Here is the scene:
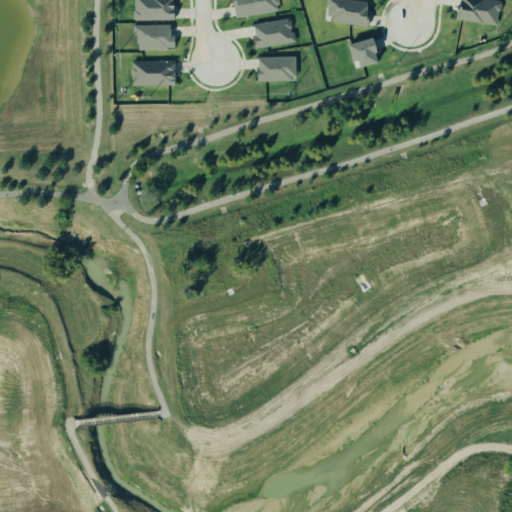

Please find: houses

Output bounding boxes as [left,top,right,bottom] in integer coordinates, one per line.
[258,56,298,81]
[136,24,173,50]
[254,19,296,48]
[456,0,501,26]
[133,0,174,19]
[328,0,370,26]
[348,38,380,68]
[235,0,280,18]
[132,60,175,86]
